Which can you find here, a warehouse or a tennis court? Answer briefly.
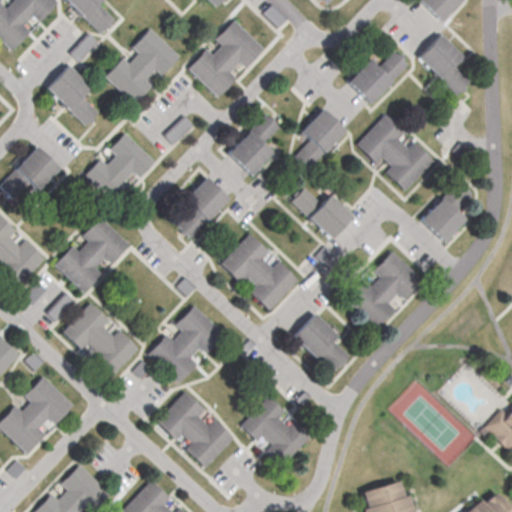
tennis court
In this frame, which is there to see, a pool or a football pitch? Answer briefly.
pool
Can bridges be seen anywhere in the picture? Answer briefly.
No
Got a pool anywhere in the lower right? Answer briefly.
Yes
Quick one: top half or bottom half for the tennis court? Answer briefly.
bottom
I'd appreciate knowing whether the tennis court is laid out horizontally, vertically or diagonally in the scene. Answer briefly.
diagonally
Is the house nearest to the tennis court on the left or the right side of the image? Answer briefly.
right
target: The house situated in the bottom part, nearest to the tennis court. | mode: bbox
[476,408,512,452]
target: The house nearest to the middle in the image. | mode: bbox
[222,234,298,310]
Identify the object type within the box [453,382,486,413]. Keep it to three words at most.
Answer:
swimming pool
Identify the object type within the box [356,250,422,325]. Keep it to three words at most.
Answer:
house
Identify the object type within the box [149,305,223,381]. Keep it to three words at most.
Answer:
house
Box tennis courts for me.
[388,380,474,465]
